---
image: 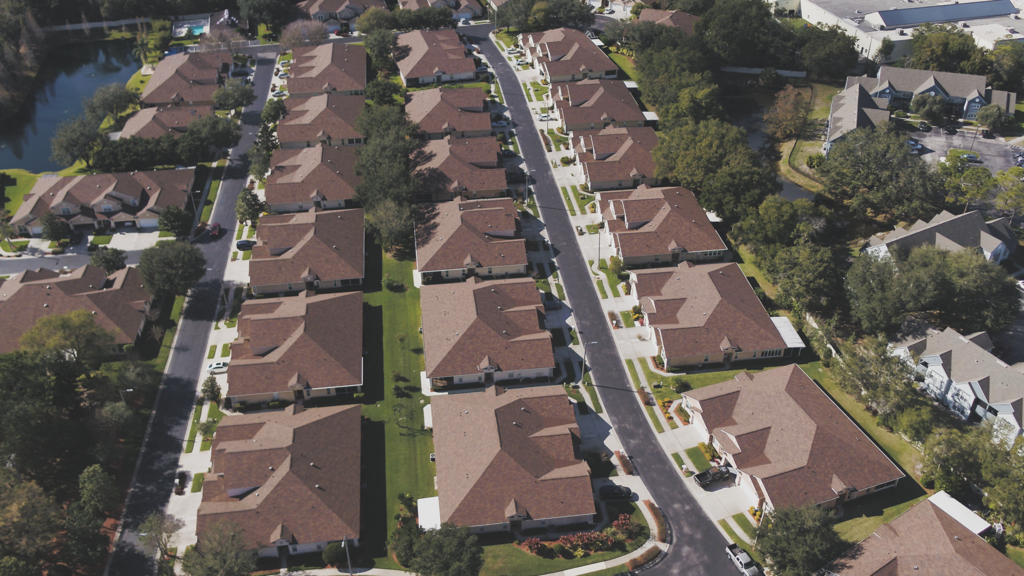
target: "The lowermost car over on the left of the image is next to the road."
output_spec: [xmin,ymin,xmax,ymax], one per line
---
[201,360,224,373]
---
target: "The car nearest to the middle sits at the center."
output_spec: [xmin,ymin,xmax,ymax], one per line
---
[545,297,565,309]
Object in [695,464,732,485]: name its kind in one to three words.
truck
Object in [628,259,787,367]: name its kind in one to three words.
house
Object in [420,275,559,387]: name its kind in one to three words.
house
